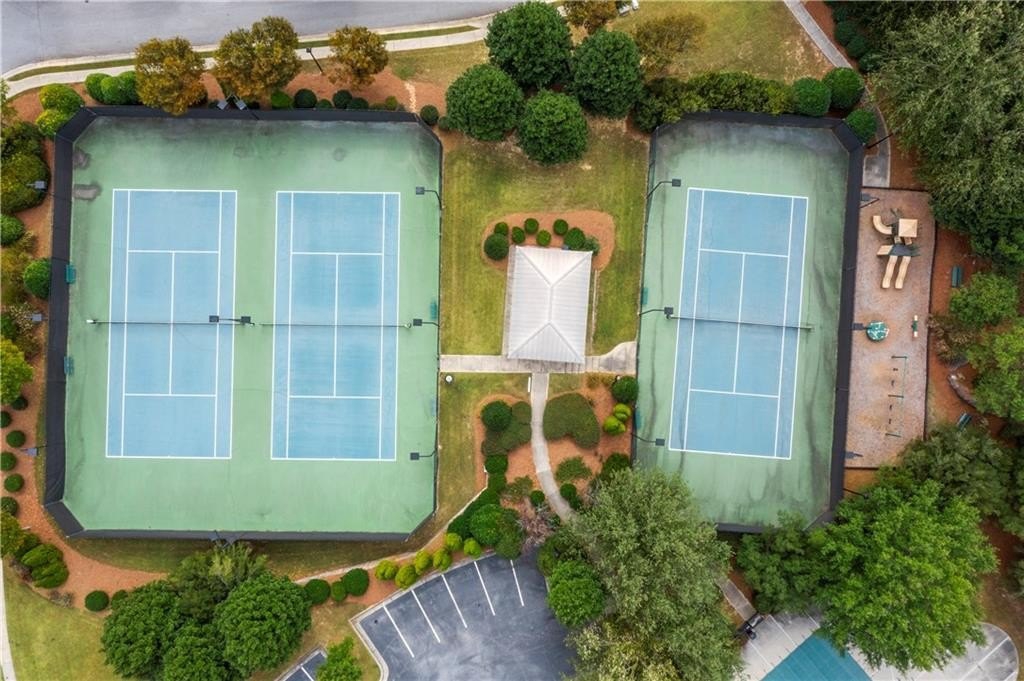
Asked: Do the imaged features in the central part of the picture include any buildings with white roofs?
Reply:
Yes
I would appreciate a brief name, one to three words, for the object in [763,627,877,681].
swimming pool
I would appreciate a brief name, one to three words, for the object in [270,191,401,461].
tennis court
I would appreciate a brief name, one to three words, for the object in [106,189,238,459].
tennis court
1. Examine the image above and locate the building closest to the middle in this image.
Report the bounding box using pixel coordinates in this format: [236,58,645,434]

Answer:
[508,245,593,363]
